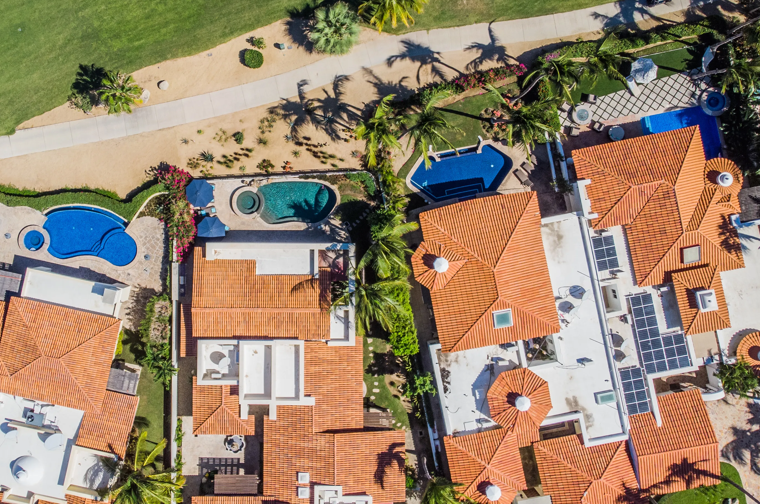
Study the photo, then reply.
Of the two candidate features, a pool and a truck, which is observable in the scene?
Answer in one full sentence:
Of the two, only a pool appears.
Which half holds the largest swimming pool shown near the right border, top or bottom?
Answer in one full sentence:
It is in the top half that the largest swimming pool shown near the right border appears.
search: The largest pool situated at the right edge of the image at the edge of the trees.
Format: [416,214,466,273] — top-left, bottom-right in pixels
[637,103,725,163]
